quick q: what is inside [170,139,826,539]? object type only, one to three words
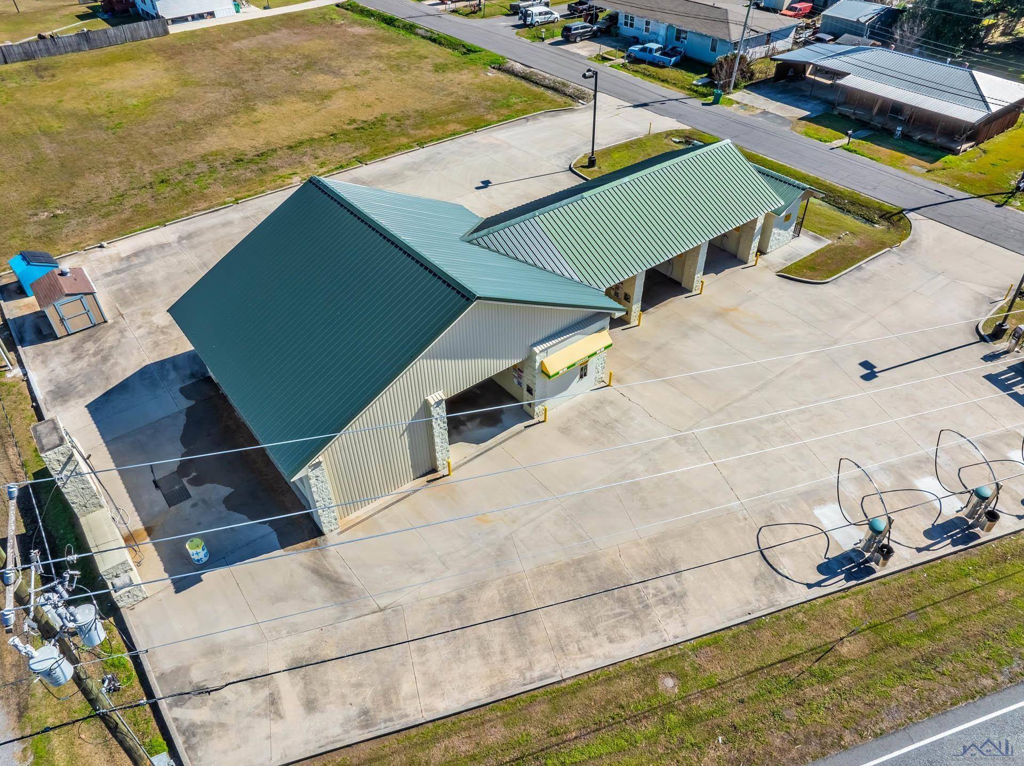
building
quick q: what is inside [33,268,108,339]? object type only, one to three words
shed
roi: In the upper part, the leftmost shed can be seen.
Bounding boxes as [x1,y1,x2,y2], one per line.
[1,243,56,298]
